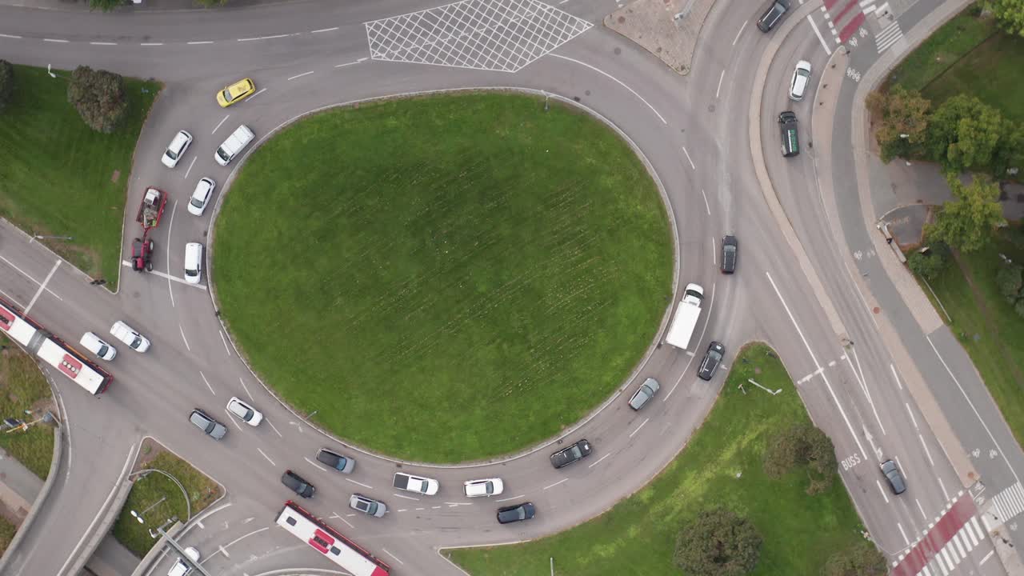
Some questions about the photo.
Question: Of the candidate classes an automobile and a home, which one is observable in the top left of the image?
automobile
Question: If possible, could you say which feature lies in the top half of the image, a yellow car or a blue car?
yellow car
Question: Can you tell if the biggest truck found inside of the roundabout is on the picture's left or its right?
right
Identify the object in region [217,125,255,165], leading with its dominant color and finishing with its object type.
white van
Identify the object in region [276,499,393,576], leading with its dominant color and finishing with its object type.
white bus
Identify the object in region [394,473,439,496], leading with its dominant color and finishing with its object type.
white truck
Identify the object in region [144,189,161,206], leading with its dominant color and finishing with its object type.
white vehicle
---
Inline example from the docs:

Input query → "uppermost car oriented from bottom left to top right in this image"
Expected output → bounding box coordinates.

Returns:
[756,0,791,34]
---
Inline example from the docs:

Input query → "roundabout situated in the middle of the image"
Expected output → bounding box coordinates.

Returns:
[173,54,713,500]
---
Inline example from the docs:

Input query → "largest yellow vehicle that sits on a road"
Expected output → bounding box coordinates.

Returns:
[218,79,256,107]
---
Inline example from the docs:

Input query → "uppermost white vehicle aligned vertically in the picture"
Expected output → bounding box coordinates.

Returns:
[788,61,812,101]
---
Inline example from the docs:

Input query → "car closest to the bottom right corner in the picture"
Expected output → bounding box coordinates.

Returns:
[879,459,906,494]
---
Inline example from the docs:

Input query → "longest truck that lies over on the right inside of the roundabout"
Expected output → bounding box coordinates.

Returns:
[667,284,706,349]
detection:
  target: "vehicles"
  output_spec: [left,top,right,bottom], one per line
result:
[109,319,151,351]
[348,493,387,517]
[496,502,536,524]
[183,243,205,283]
[667,284,706,349]
[163,131,193,167]
[394,473,439,496]
[464,478,503,497]
[280,468,316,499]
[144,189,161,206]
[189,408,227,439]
[719,235,739,274]
[316,447,355,473]
[0,292,118,396]
[78,330,118,360]
[756,0,791,34]
[126,236,153,270]
[218,79,256,107]
[879,459,906,494]
[190,179,217,215]
[276,499,393,576]
[696,341,723,380]
[778,112,800,157]
[551,439,591,468]
[788,61,812,101]
[217,125,255,165]
[627,377,659,411]
[227,396,263,426]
